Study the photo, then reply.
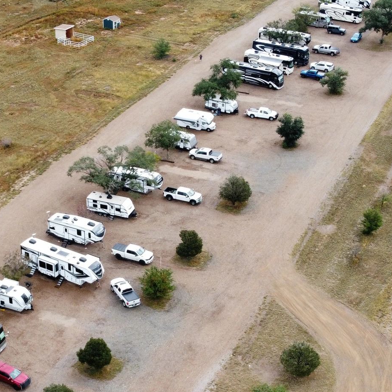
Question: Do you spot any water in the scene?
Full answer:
No, there's no water in this view.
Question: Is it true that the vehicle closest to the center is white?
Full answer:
Yes, white is the color of the vehicle closest to the center.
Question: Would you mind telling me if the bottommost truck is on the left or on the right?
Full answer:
It is on the left.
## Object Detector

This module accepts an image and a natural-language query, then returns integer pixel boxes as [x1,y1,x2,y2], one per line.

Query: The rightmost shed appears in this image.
[99,12,125,30]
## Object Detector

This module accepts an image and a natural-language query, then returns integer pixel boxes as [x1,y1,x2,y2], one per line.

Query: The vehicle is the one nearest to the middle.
[163,185,203,206]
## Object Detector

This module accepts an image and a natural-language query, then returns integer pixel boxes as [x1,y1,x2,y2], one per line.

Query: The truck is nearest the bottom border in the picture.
[0,359,33,391]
